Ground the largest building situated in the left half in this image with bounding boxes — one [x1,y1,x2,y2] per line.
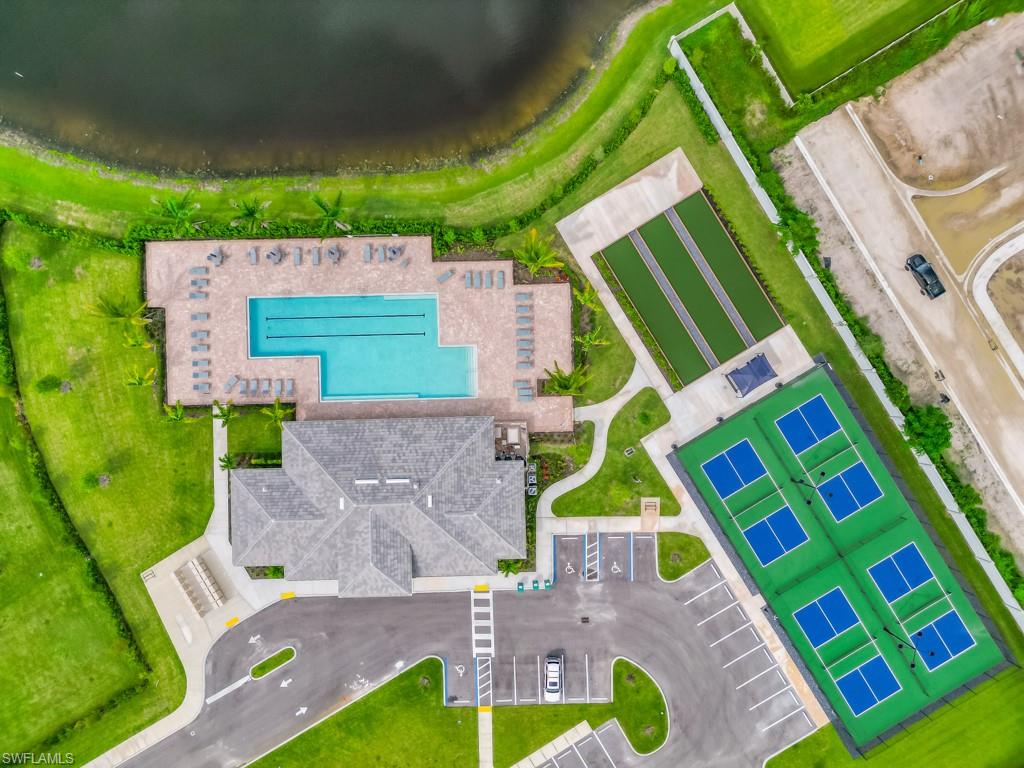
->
[231,416,527,597]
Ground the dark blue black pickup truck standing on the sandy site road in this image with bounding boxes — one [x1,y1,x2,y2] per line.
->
[906,254,948,302]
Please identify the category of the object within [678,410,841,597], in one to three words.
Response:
sports court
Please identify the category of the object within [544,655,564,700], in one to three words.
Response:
car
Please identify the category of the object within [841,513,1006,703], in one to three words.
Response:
sports court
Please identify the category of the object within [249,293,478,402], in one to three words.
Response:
swimming pool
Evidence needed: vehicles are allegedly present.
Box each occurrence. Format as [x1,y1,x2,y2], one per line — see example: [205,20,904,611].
[544,655,564,700]
[906,254,948,302]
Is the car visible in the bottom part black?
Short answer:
No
